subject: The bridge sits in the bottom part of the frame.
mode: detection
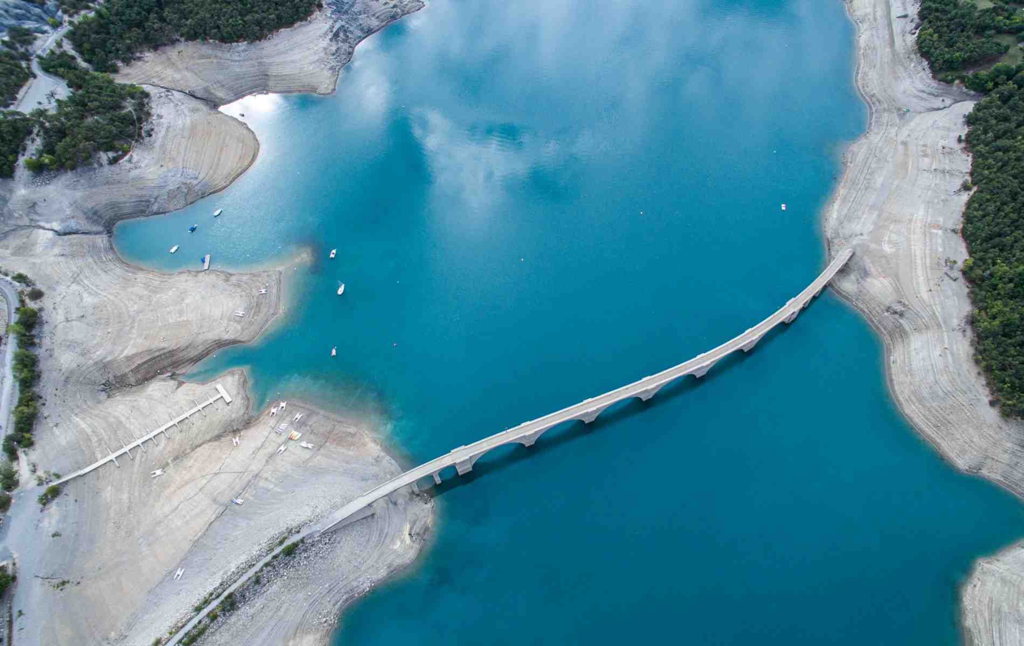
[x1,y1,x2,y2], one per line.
[317,249,854,533]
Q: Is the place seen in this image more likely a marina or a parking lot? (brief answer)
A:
marina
